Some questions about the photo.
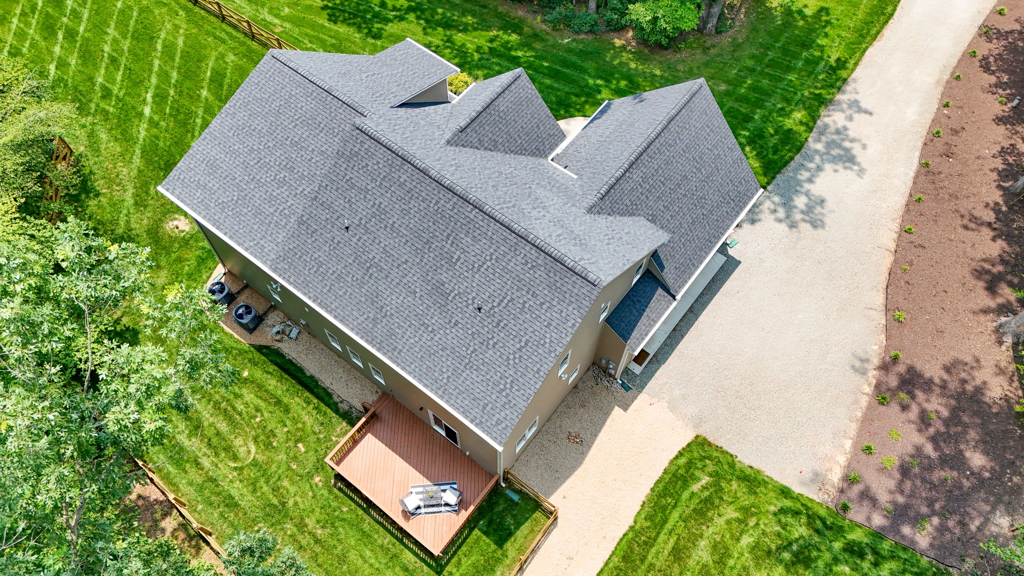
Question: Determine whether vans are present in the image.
No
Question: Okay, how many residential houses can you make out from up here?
1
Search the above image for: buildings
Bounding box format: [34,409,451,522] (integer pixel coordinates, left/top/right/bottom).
[158,38,765,494]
